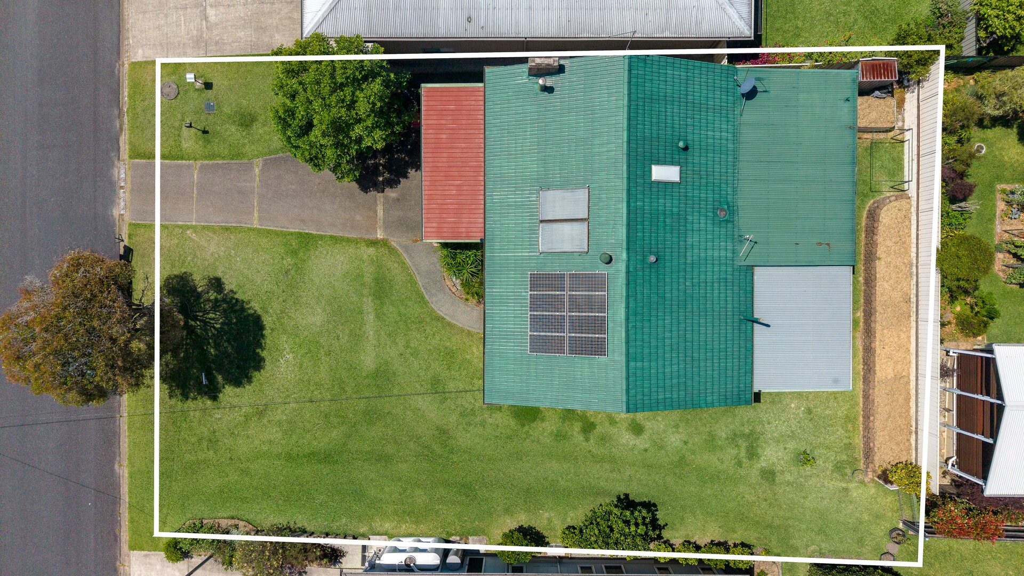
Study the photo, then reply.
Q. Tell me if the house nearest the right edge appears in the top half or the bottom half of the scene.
bottom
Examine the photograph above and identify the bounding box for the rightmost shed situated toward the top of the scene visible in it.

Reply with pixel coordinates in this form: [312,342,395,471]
[852,55,899,92]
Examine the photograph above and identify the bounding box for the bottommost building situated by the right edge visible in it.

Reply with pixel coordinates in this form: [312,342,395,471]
[942,340,1024,500]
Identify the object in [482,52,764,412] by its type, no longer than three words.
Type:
house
